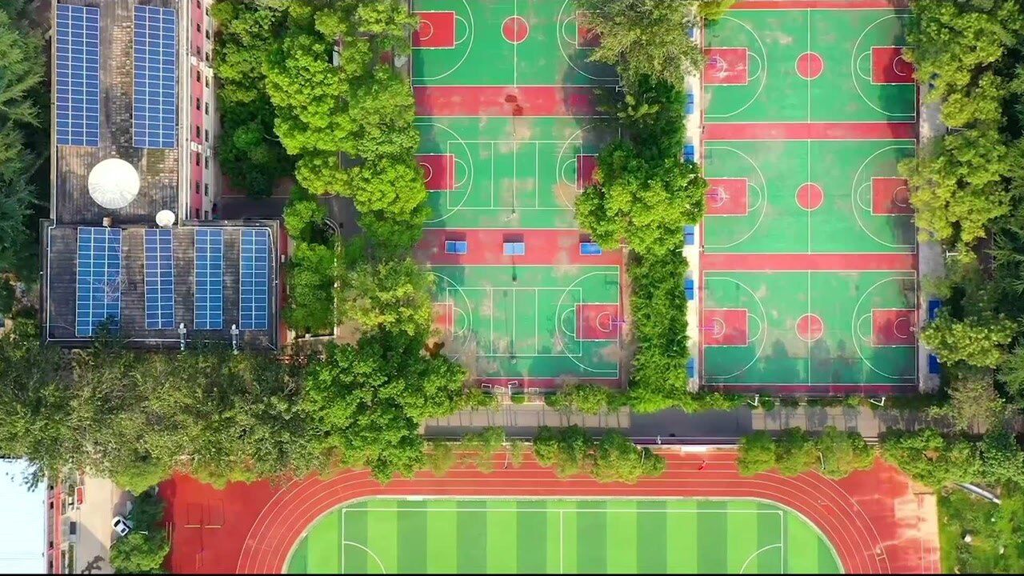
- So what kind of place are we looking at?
sports ground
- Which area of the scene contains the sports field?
bottom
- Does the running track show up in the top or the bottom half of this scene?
bottom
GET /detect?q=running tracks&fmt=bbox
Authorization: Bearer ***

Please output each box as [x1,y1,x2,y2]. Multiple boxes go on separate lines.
[162,452,942,576]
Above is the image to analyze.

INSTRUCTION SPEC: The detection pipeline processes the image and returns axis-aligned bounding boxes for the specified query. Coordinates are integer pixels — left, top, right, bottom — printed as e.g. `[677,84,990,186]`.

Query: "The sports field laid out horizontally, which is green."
[287,500,842,576]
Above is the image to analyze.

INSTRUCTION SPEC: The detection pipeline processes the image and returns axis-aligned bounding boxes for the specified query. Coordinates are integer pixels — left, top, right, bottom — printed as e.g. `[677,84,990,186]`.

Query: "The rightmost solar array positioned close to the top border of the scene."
[133,5,175,149]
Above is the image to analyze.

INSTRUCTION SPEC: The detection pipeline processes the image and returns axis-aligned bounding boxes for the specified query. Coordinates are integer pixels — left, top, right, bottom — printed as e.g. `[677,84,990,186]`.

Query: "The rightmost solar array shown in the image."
[240,230,268,330]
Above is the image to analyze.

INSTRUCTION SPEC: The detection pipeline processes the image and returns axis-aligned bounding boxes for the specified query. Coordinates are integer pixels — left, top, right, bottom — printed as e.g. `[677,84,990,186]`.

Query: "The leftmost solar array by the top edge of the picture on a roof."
[56,5,100,147]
